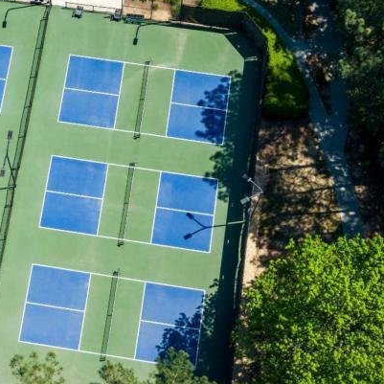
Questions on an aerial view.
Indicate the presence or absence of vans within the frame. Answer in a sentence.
No, I find no van anywhere in the image.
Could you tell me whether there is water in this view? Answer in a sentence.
No, water can't be seen anywhere here.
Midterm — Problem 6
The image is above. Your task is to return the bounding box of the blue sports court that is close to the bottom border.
[19,264,204,368]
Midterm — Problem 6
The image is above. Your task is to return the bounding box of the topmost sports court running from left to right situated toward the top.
[60,55,231,145]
